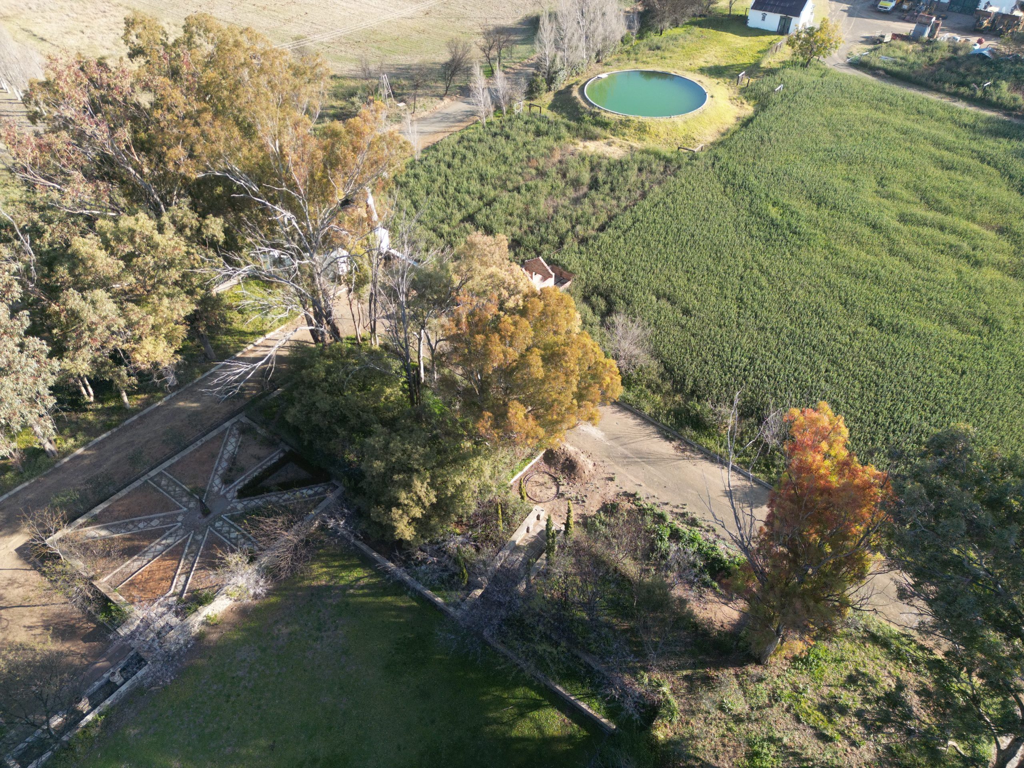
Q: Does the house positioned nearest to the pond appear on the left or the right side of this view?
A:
right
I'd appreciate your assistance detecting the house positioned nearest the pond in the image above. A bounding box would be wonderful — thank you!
[748,0,819,33]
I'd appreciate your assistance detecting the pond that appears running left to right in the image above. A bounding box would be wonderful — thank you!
[583,71,710,123]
